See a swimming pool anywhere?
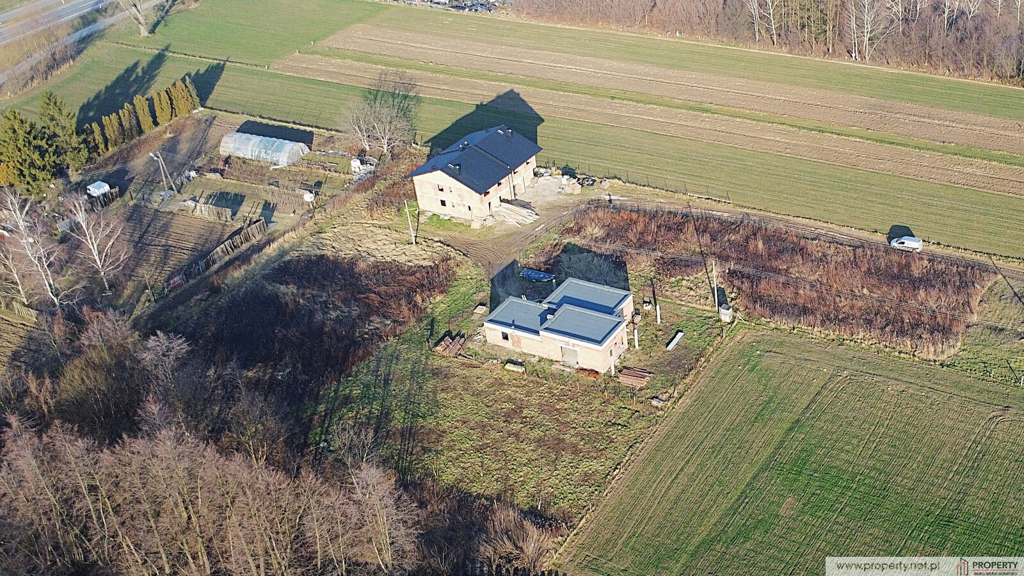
No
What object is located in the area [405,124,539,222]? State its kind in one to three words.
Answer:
house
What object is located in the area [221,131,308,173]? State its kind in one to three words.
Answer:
greenhouse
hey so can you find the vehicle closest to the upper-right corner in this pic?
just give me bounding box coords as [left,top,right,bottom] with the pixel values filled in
[890,234,924,251]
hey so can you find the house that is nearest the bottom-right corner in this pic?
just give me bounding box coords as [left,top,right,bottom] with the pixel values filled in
[483,277,638,375]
